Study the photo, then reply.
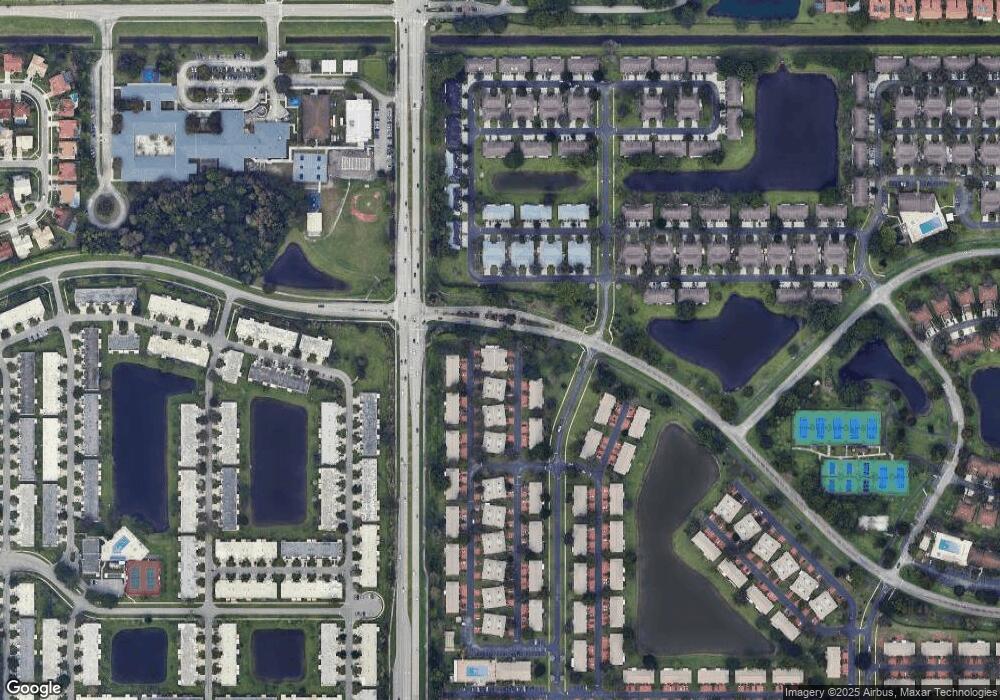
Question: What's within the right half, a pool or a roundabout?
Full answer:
What appears within the right half is a pool.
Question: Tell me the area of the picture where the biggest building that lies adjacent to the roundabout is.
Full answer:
The biggest building that lies adjacent to the roundabout appears toward the top left of the photo.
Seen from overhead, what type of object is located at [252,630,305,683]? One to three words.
pond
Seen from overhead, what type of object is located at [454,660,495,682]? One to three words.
swimming pool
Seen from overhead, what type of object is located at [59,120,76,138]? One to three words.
house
